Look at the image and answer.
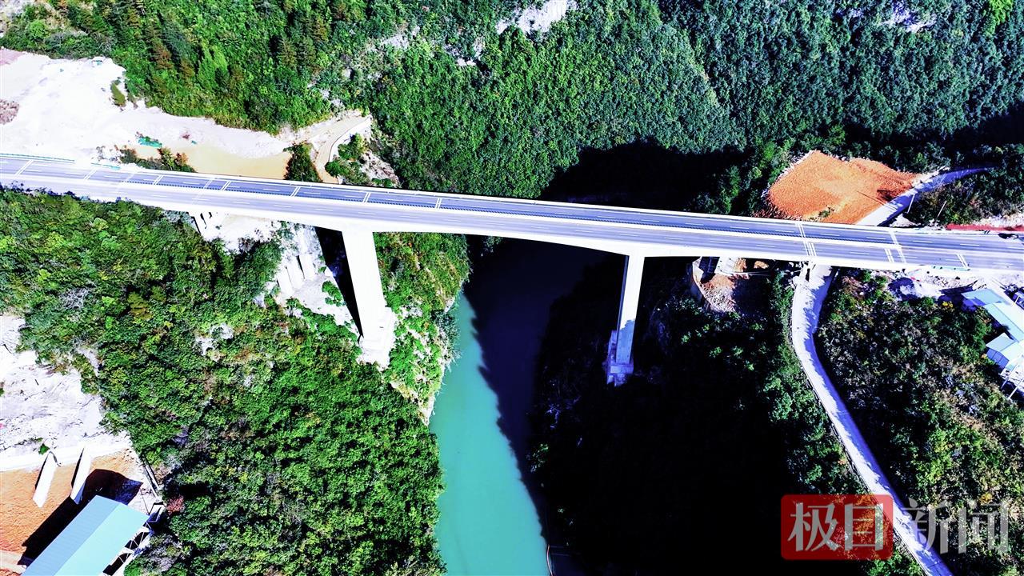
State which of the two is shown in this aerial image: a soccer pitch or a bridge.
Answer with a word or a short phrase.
bridge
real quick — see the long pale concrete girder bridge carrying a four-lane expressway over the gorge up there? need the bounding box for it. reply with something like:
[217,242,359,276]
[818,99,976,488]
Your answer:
[184,173,910,392]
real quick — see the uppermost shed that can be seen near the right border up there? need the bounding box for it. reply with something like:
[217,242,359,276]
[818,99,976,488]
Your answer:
[954,289,1004,319]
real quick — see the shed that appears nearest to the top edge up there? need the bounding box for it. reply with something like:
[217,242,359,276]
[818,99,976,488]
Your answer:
[711,259,735,296]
